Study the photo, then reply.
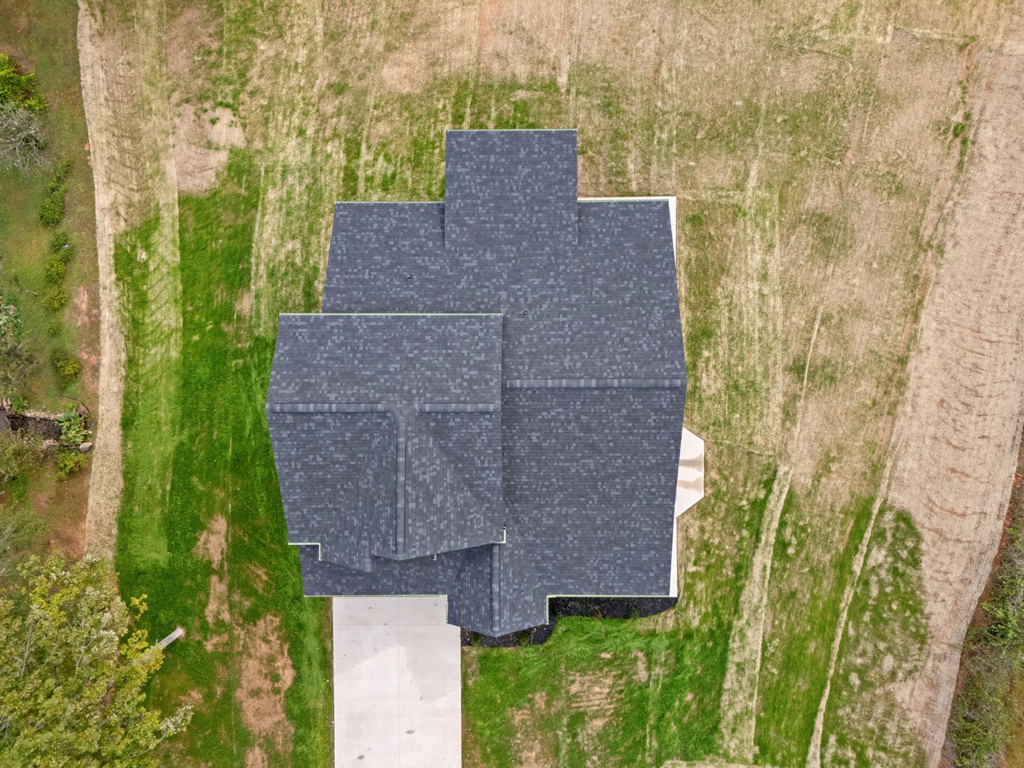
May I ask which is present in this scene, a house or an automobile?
house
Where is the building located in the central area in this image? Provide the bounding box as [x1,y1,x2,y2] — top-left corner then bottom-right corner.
[267,129,686,637]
